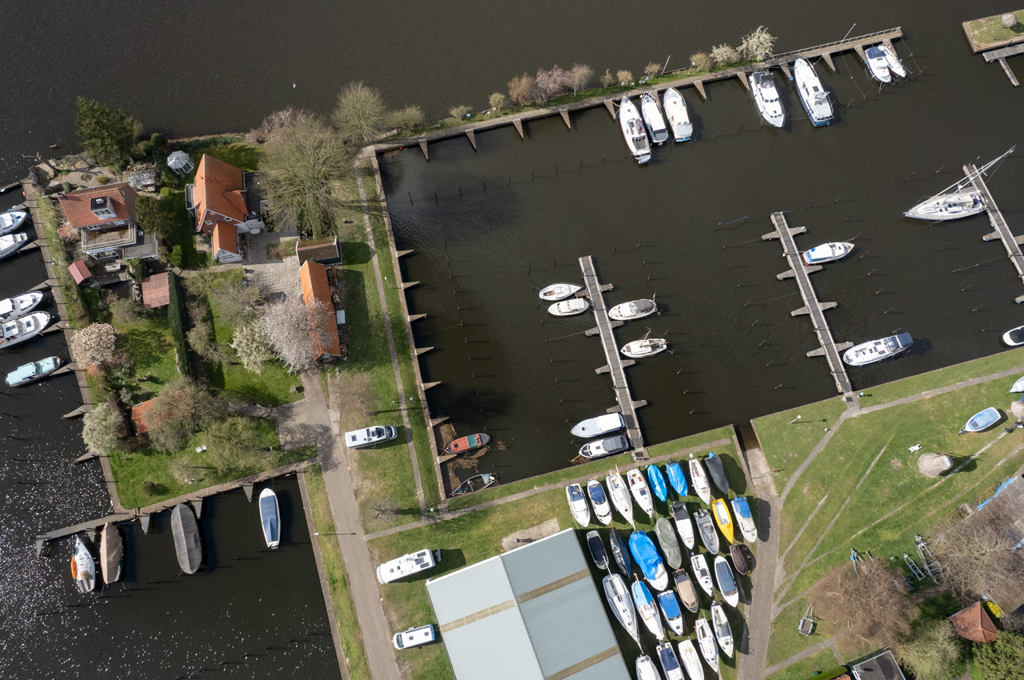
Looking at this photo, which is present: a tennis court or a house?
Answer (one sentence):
This aerial view contains a house.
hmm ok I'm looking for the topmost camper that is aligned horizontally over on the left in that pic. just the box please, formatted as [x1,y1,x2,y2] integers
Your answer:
[345,425,400,450]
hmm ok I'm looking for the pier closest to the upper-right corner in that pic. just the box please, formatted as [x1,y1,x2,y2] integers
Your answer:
[980,44,1024,86]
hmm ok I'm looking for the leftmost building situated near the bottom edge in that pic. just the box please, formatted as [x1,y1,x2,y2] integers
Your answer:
[425,526,631,680]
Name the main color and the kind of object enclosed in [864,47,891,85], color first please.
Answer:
white boat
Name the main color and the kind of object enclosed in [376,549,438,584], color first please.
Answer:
white camper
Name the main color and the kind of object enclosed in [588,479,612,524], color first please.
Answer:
white boat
